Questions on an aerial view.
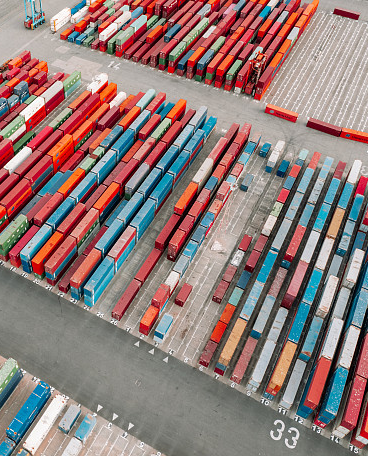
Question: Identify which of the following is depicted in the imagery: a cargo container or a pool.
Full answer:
The image shows a cargo container.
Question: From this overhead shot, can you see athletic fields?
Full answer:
No, no athletic field can be seen from above.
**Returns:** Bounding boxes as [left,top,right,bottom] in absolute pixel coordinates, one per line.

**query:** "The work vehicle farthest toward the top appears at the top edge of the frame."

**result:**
[23,0,47,30]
